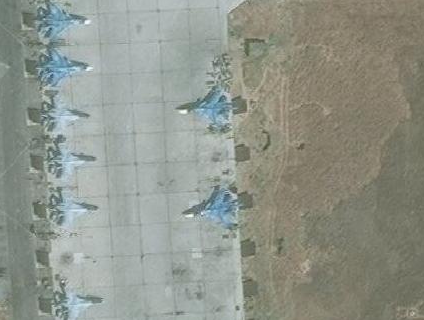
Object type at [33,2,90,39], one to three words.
airplane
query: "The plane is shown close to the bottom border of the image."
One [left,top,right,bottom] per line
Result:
[49,286,104,320]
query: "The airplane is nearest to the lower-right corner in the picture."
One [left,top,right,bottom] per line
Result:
[184,191,240,228]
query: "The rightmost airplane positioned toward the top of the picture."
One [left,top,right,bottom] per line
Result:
[178,90,234,127]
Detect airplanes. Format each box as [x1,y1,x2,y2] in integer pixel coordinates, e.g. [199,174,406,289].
[36,50,92,86]
[49,286,104,320]
[184,191,240,228]
[33,2,90,39]
[43,144,98,180]
[178,90,234,127]
[39,97,94,133]
[45,192,99,227]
